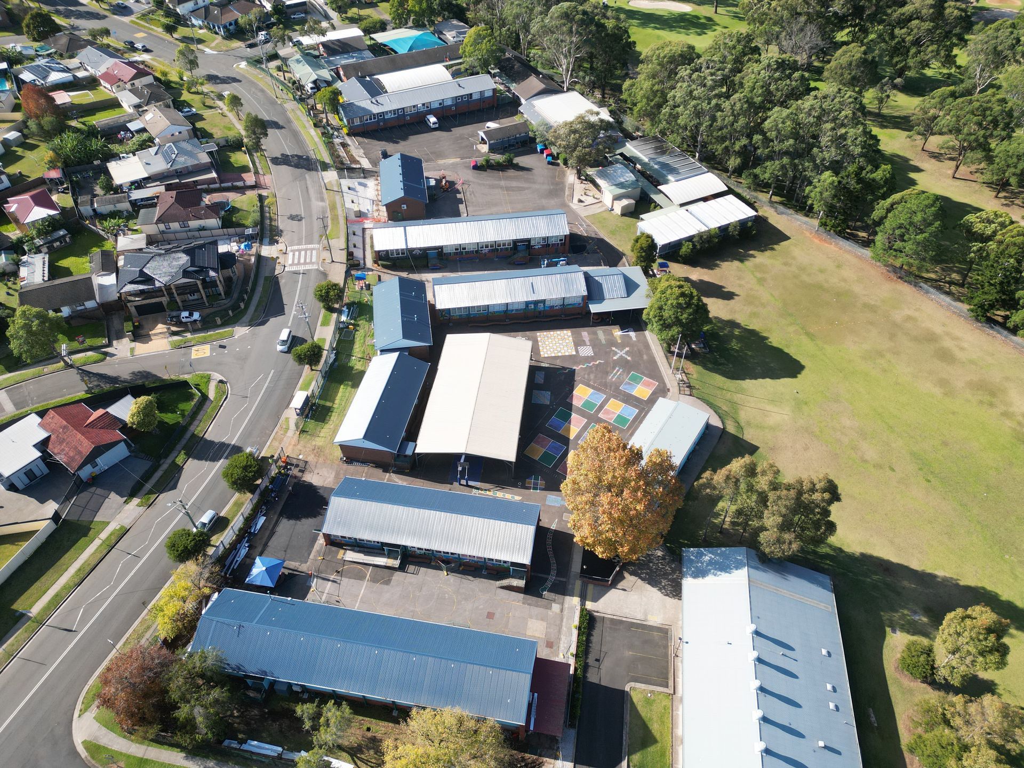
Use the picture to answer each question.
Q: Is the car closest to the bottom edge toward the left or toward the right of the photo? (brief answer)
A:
left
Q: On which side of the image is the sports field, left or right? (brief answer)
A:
right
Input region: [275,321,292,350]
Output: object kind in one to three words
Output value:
vehicle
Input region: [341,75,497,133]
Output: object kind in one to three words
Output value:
building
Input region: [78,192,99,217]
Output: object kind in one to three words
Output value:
shed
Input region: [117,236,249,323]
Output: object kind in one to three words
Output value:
house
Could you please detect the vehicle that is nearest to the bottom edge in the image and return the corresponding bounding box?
[192,501,223,534]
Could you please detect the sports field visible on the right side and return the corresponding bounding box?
[575,195,1024,768]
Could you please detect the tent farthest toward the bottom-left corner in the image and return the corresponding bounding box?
[245,557,289,595]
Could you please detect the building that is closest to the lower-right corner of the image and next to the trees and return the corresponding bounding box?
[677,545,860,768]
